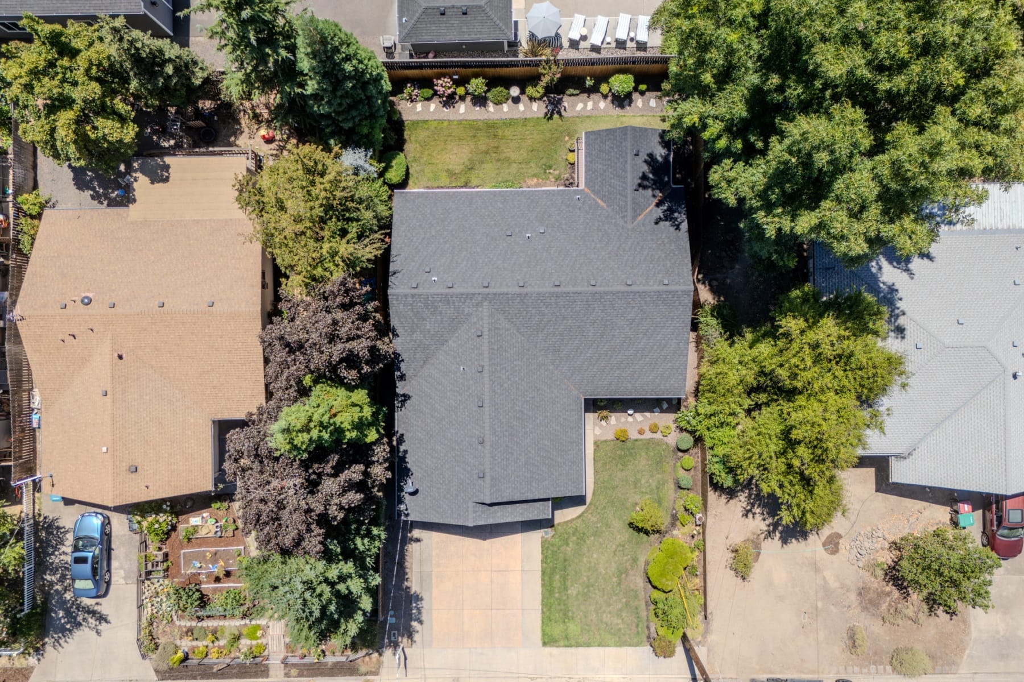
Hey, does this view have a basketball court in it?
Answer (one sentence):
No, I can see no basketball court in this picture.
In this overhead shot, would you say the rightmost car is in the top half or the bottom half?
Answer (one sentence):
The rightmost car sits in the bottom half of the picture.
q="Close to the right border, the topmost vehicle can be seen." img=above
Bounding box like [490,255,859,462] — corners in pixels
[984,490,1024,557]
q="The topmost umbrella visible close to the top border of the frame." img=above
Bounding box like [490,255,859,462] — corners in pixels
[526,4,563,42]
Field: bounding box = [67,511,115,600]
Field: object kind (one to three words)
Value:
car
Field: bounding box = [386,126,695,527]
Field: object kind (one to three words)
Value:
house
